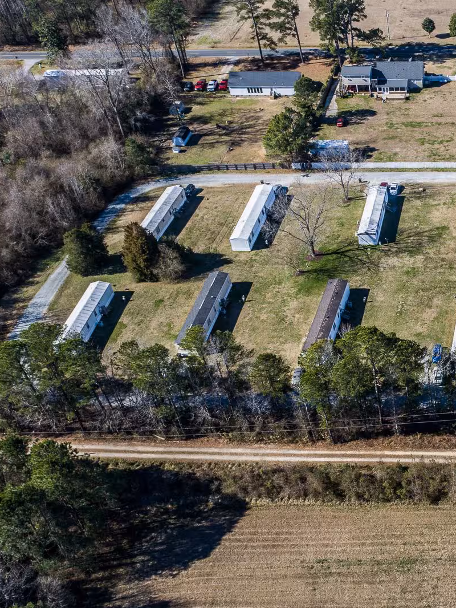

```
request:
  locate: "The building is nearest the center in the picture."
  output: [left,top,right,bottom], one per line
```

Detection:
[173,270,230,351]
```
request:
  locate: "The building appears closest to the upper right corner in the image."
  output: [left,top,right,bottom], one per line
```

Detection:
[342,54,425,100]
